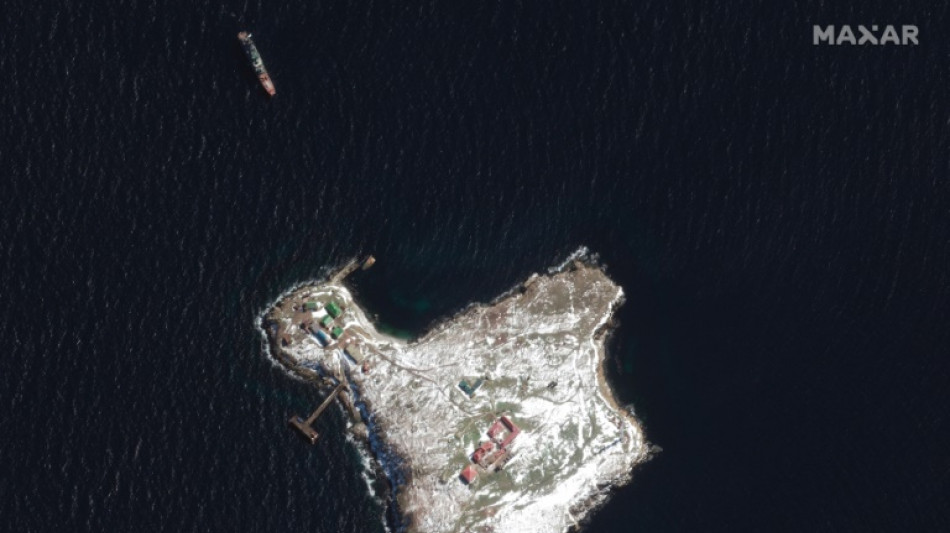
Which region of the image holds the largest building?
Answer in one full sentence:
You can find the largest building in the bottom area of the picture.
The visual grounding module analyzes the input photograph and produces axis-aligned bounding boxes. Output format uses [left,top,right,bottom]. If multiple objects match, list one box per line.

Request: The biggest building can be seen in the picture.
[486,415,521,448]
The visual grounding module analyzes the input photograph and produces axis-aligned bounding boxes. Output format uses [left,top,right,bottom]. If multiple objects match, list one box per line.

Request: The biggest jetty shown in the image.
[289,382,345,439]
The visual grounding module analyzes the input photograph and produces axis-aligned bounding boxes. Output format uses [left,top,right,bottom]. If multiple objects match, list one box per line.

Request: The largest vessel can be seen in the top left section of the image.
[238,34,276,95]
